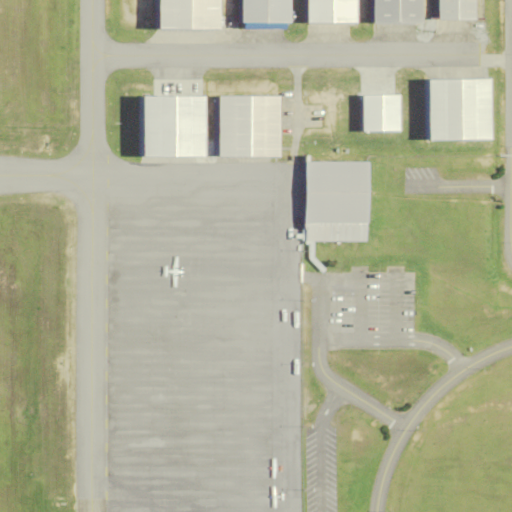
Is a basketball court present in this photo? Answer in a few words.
No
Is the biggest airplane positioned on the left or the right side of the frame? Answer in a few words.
left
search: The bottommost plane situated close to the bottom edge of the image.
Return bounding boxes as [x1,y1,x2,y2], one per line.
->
[270,486,285,508]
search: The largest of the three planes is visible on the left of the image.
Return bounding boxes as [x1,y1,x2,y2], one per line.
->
[164,256,184,288]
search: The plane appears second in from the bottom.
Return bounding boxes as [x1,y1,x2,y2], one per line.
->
[270,458,286,479]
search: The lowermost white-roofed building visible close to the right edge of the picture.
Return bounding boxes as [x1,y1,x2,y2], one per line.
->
[426,80,494,140]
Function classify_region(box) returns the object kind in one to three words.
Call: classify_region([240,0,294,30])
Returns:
hangar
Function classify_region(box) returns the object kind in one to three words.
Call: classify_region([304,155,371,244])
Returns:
building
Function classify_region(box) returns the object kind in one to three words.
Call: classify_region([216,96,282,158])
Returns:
hangar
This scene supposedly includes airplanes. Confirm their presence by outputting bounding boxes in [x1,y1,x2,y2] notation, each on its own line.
[270,486,285,508]
[270,458,286,479]
[164,256,184,288]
